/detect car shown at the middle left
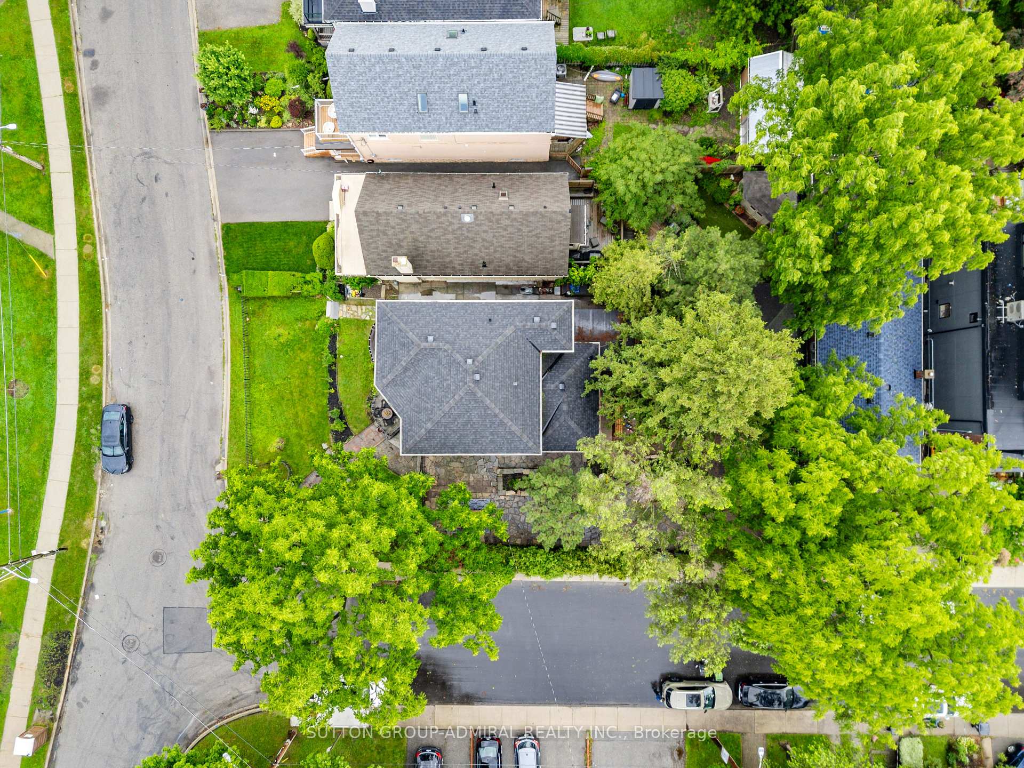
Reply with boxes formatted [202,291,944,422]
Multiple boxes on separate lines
[97,402,137,475]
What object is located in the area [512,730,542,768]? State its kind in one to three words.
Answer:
car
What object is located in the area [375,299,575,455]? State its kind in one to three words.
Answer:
house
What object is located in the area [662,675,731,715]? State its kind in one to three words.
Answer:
car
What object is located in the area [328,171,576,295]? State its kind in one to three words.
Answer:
house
